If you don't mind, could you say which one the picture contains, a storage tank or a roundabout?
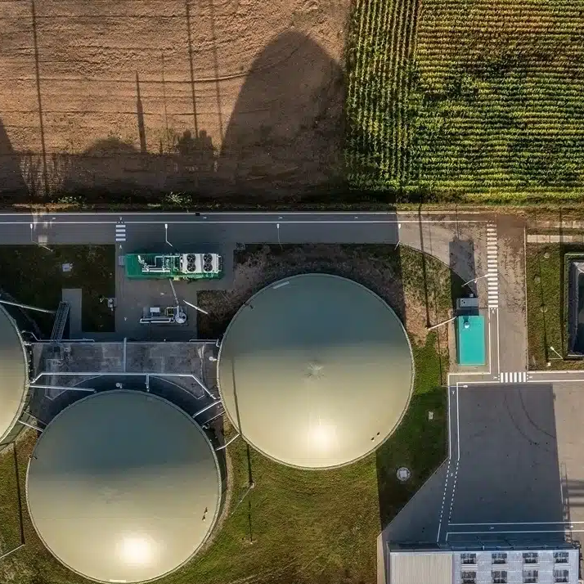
storage tank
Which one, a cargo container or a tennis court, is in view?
cargo container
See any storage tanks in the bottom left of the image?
Yes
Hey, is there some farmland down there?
Yes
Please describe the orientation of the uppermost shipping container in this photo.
from left to right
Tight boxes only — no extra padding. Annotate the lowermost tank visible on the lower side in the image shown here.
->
[27,390,224,584]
